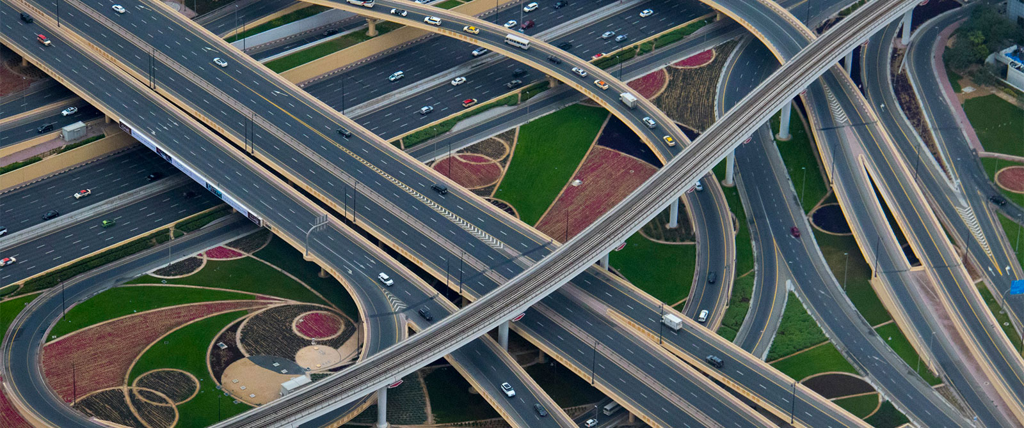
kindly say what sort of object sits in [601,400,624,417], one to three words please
vehicle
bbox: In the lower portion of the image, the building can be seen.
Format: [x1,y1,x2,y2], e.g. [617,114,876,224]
[280,375,311,398]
